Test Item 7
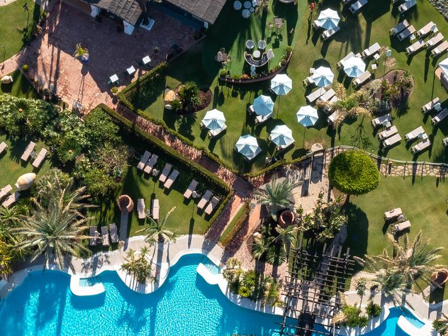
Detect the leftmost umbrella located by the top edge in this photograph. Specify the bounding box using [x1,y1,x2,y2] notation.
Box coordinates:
[318,9,339,32]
